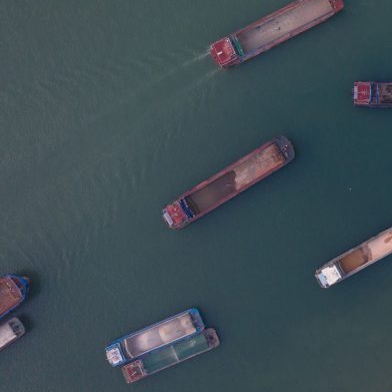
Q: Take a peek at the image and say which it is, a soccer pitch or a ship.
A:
ship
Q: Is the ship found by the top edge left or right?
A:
right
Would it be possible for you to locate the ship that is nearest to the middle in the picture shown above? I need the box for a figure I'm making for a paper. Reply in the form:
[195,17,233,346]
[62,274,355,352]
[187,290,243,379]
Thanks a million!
[165,140,296,230]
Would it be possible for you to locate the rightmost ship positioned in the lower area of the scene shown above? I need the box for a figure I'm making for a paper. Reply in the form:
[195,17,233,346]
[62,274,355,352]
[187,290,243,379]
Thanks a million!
[315,228,392,290]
